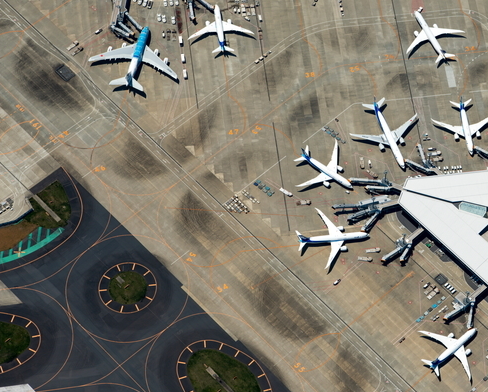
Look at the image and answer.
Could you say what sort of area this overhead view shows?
airport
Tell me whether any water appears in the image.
No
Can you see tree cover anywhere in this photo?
No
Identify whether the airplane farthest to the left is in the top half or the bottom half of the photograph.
top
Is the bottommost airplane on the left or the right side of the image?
right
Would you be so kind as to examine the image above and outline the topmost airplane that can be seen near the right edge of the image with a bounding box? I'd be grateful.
[406,12,465,60]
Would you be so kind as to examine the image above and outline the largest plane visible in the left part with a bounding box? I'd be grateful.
[89,27,178,91]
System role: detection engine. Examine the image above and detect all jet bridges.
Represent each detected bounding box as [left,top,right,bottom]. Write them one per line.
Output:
[396,242,413,262]
[333,196,393,210]
[109,23,130,42]
[347,206,380,222]
[473,146,488,157]
[462,301,475,328]
[405,159,429,175]
[198,0,215,14]
[183,0,194,20]
[382,240,412,263]
[366,185,394,194]
[416,144,427,168]
[123,10,143,31]
[349,177,390,186]
[359,209,382,233]
[118,20,135,39]
[443,301,472,321]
